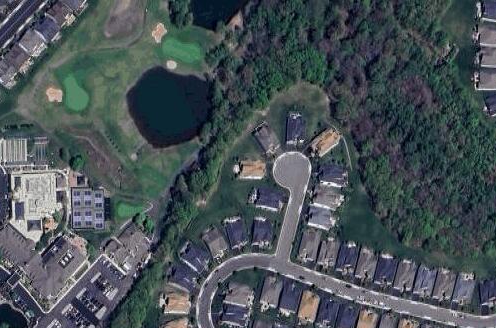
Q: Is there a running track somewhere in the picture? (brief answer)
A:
No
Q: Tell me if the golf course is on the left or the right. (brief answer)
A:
left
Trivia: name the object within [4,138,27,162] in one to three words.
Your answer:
sports court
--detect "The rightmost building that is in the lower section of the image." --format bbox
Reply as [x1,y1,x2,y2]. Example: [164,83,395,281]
[479,276,495,307]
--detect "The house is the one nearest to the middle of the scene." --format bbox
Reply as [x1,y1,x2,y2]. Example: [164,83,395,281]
[237,159,266,180]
